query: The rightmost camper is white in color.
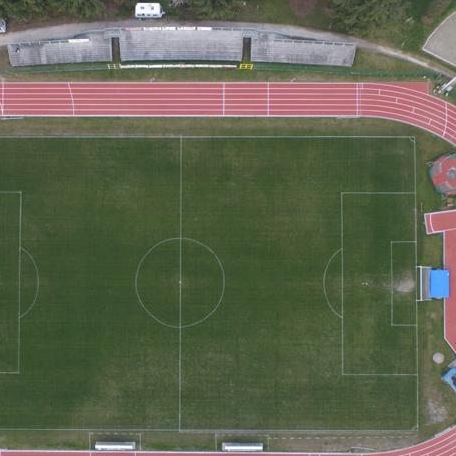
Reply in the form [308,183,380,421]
[136,0,165,17]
